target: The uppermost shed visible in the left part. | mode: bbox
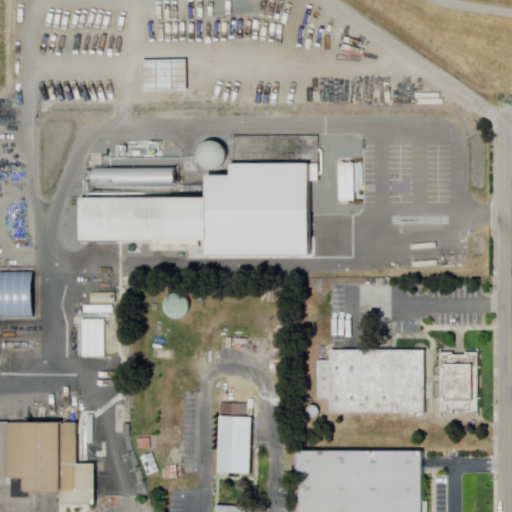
[144,60,186,91]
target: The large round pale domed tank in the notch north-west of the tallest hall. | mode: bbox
[190,135,229,173]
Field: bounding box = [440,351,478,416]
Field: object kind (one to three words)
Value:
building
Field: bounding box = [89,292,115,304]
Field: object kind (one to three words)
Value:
shed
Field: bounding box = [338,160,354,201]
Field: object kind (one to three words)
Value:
building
